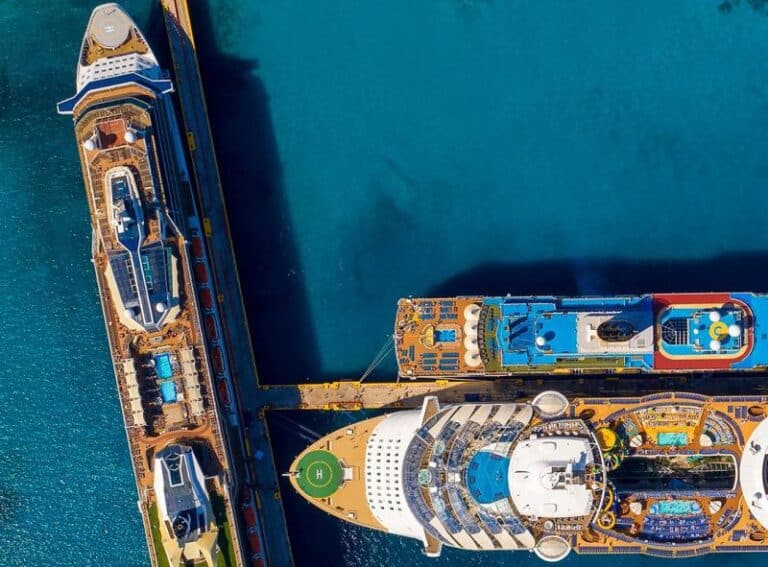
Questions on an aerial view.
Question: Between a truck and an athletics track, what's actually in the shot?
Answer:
athletics track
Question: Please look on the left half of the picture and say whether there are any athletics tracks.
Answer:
No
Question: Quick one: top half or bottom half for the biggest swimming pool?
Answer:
bottom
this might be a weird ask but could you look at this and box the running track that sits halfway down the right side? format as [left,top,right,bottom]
[655,293,754,369]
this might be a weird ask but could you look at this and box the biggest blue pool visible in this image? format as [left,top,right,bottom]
[465,450,508,504]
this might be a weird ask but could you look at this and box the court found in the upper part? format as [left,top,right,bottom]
[90,116,128,151]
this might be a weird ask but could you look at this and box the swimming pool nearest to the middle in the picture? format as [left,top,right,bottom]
[435,328,457,343]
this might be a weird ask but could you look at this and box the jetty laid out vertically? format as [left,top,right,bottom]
[160,0,293,567]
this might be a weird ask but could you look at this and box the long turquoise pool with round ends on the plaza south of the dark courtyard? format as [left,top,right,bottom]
[652,499,694,515]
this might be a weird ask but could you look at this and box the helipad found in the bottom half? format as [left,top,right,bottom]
[296,450,347,497]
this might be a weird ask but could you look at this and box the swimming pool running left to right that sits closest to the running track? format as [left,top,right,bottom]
[656,432,688,447]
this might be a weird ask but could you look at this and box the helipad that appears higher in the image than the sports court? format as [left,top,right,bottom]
[91,10,130,52]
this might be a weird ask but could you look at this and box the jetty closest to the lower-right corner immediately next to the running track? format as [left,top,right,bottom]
[258,374,768,410]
